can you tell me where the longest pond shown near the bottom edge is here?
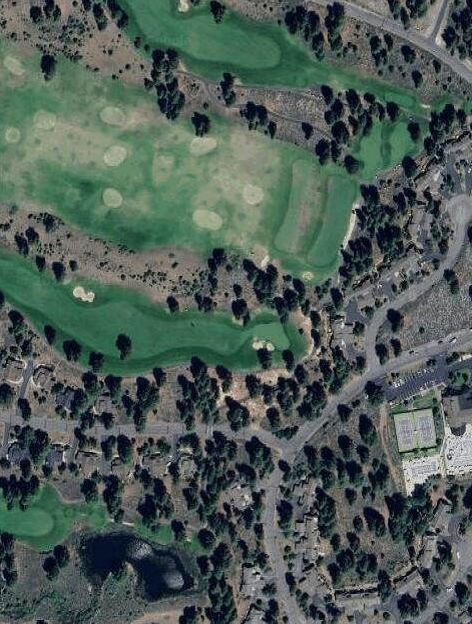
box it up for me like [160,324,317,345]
[78,531,193,602]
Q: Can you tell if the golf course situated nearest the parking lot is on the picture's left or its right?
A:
left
